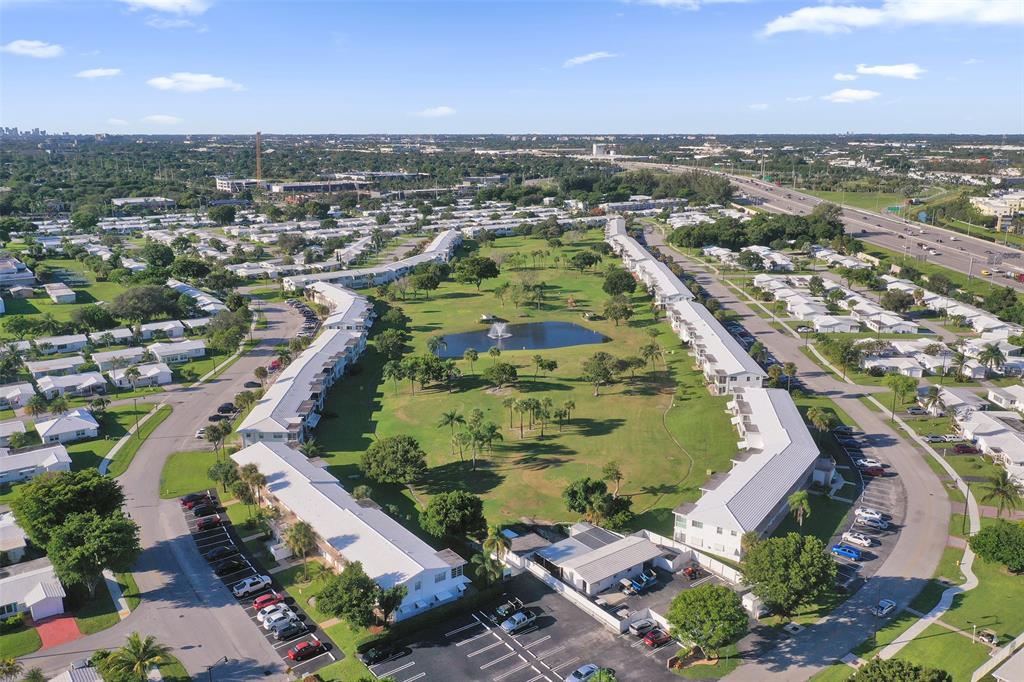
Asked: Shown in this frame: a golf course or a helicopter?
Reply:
golf course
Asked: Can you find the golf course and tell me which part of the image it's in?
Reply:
center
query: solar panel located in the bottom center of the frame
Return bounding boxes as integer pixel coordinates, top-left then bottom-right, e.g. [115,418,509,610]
[574,527,620,548]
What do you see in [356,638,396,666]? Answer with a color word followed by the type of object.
black car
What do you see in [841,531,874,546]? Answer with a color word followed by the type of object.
white car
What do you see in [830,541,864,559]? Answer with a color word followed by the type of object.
blue car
